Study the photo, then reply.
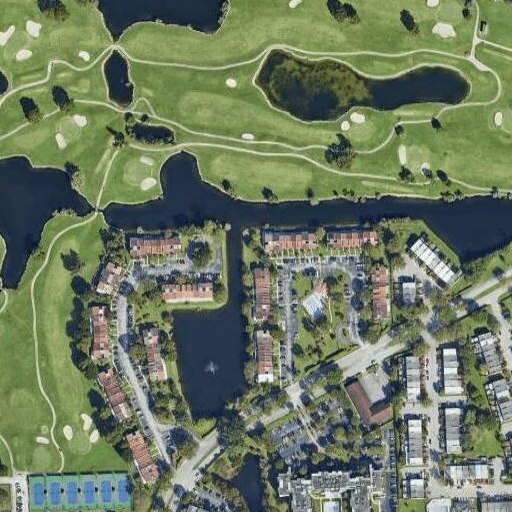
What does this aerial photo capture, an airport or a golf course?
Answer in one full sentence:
The area seen from above is a golf course.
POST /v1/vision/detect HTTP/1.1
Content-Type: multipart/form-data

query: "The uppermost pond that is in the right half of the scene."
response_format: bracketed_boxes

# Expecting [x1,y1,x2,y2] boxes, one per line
[256,51,469,122]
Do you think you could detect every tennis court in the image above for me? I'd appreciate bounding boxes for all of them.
[29,475,47,508]
[64,475,81,508]
[47,475,64,508]
[81,475,98,508]
[98,475,114,508]
[114,475,131,508]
